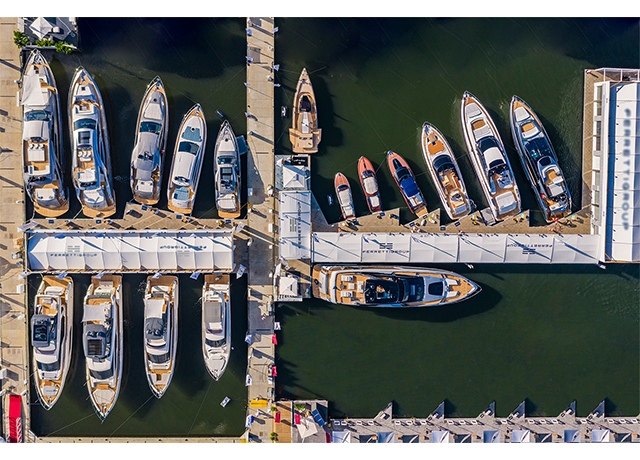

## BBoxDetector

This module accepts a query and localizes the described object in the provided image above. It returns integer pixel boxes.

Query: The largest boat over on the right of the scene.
[312,264,482,309]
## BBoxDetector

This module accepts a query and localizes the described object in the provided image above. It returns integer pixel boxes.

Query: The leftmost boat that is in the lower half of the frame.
[29,272,75,410]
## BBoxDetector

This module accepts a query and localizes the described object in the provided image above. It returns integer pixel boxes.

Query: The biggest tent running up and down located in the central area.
[279,191,311,263]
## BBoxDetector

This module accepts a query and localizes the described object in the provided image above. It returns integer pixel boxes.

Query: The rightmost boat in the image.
[512,96,579,228]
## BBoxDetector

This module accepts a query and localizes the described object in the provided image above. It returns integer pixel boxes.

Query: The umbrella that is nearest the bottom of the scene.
[301,414,325,440]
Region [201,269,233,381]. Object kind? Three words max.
boat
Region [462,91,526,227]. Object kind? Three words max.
boat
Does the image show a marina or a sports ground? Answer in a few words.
marina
